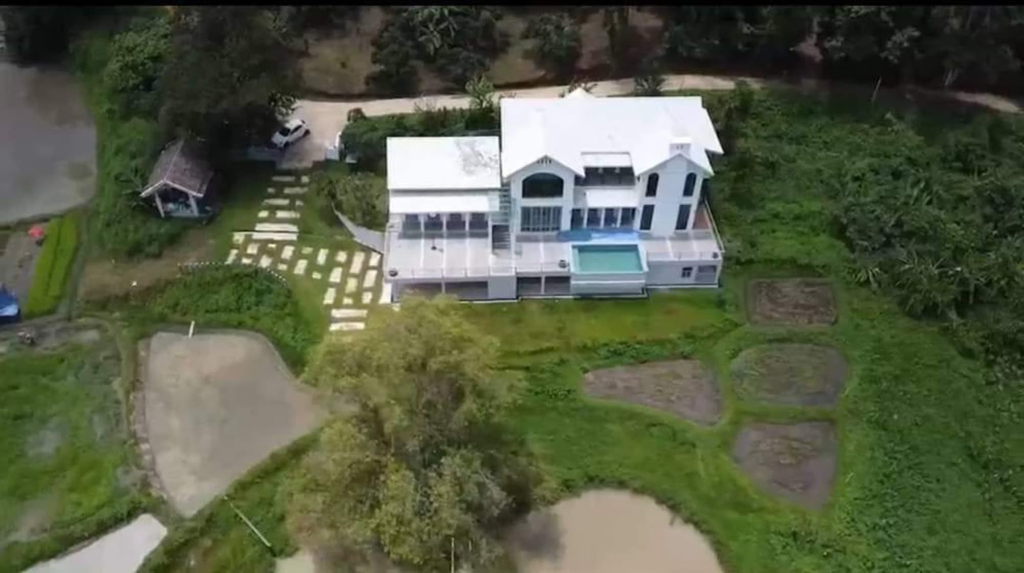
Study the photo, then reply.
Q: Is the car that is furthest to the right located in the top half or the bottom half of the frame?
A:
top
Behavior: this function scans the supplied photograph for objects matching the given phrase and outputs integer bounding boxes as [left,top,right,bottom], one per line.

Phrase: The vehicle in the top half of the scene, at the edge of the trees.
[271,121,311,149]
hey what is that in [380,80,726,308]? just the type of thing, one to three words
house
